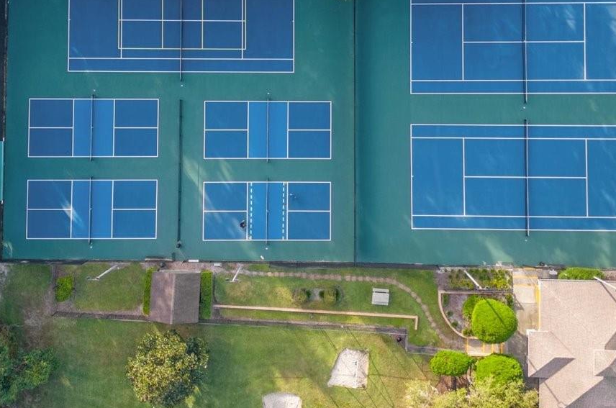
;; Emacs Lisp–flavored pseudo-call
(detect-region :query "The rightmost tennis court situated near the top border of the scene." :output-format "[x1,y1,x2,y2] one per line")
[410,0,616,93]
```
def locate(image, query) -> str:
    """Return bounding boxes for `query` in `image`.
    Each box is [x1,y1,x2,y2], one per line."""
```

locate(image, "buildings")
[522,280,616,408]
[150,269,202,324]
